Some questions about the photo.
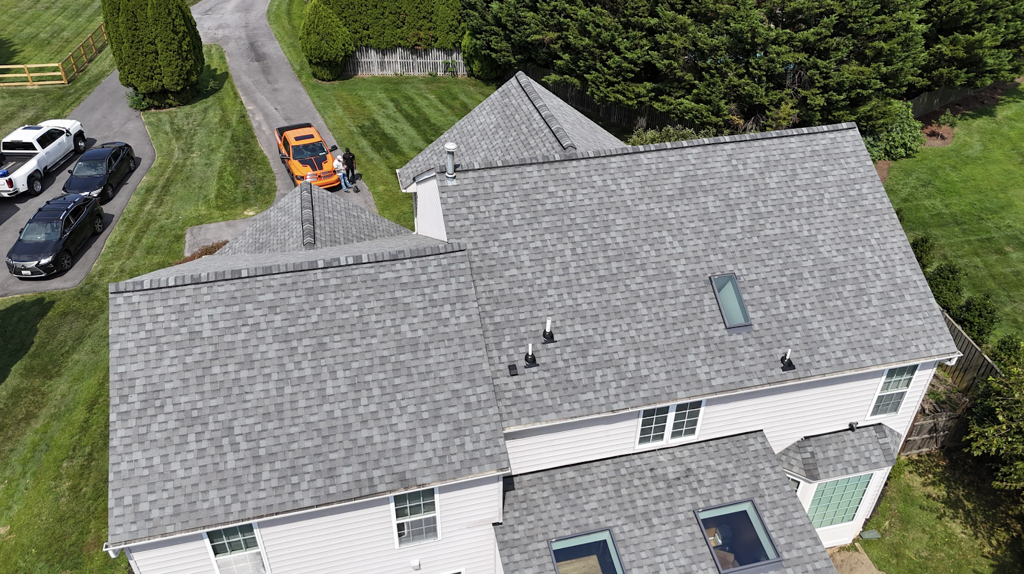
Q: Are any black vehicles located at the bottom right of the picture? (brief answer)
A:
No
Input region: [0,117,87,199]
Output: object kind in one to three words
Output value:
truck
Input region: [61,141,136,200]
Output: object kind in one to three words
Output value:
car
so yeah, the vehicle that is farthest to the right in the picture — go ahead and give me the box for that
[273,122,339,192]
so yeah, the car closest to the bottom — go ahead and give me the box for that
[5,193,105,280]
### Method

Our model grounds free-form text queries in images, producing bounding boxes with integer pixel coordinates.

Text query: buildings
[103,70,963,574]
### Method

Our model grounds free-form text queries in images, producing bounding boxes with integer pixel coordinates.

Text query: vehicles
[273,122,339,192]
[5,193,105,280]
[61,141,136,200]
[0,117,87,199]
